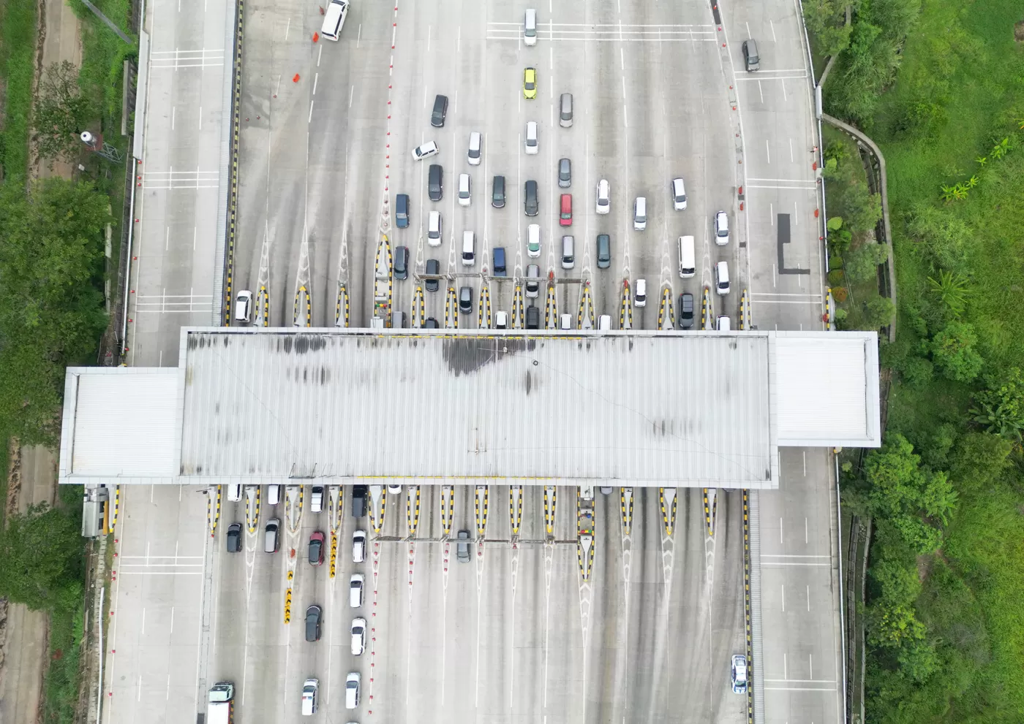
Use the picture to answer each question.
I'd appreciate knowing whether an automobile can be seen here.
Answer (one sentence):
Yes, looking at the shot, I can spot an automobile.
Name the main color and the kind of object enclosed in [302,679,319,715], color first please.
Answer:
white car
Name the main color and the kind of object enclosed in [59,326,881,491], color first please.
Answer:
white toll station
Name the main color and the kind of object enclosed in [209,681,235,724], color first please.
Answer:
white truck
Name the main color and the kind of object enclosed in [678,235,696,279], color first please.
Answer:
white vehicle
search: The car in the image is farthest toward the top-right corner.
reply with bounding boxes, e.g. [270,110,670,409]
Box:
[741,40,760,72]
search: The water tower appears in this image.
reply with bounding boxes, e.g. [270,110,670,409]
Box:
[82,131,129,168]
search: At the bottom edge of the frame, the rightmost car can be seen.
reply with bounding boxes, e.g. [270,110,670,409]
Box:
[730,655,749,693]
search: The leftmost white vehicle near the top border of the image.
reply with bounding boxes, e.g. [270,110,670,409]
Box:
[321,0,349,42]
